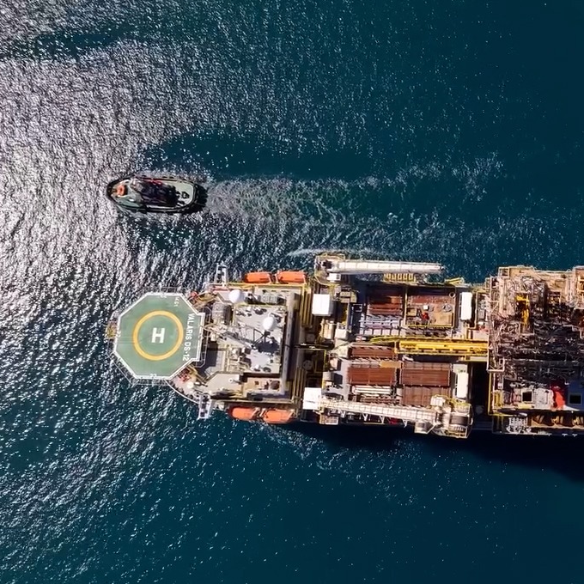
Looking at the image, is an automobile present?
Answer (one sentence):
No, I can't see a single automobile in this photo.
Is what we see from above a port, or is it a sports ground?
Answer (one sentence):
It's a port.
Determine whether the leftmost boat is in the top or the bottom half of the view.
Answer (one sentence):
It is in the top half that the leftmost boat appears.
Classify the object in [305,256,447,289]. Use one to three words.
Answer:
crane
